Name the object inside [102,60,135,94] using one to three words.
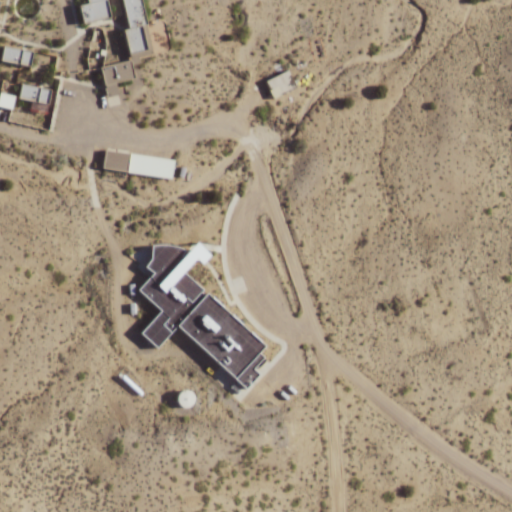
building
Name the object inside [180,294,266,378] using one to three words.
building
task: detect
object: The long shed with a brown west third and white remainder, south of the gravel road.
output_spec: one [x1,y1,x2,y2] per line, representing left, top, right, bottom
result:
[102,150,176,180]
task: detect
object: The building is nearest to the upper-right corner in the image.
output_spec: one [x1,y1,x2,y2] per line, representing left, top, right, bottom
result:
[266,70,296,97]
